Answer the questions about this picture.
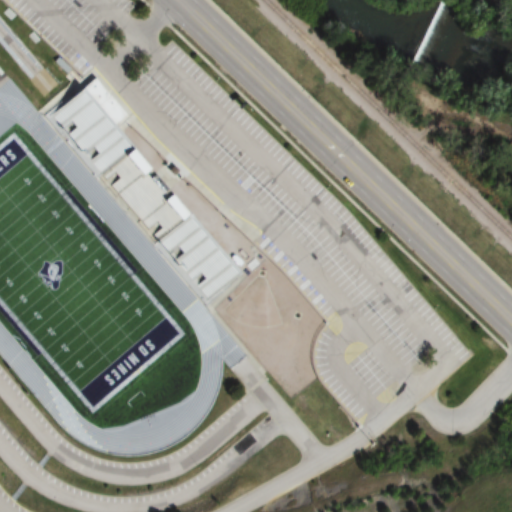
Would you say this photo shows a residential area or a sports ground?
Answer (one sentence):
The picture captures a sports ground.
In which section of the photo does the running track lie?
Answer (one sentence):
The running track is in the left part of the image.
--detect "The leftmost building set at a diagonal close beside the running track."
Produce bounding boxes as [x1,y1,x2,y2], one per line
[0,23,58,96]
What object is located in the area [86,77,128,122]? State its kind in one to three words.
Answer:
building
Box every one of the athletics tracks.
[0,76,247,457]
